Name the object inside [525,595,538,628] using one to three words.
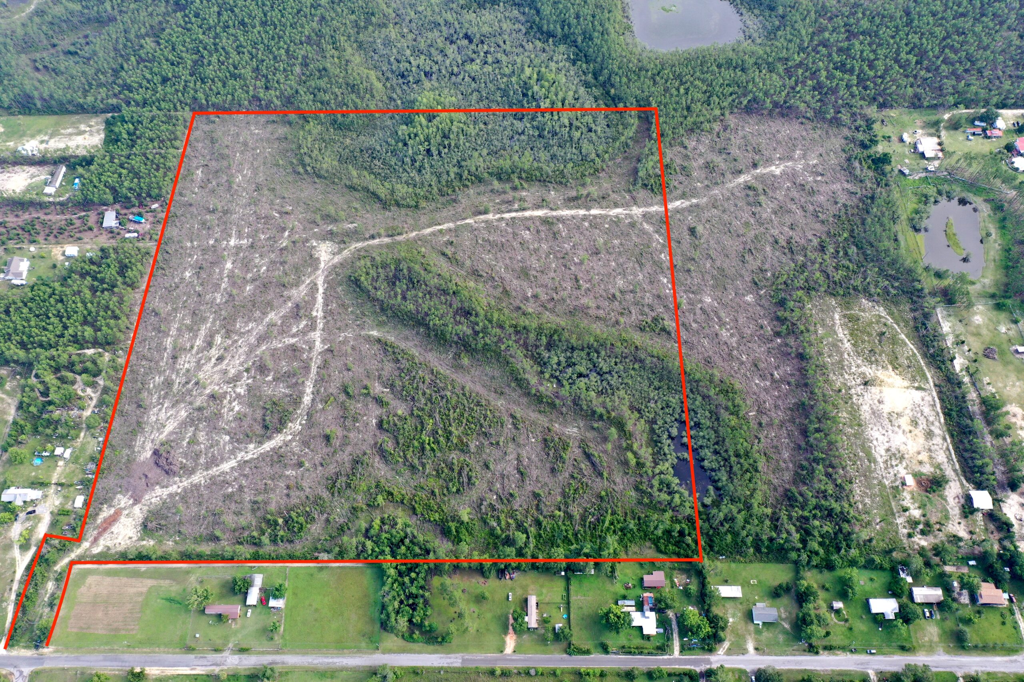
house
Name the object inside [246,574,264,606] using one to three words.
barn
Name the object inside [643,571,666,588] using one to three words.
building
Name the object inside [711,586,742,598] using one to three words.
shed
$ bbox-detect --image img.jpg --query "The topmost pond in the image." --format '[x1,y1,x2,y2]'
[924,196,985,278]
